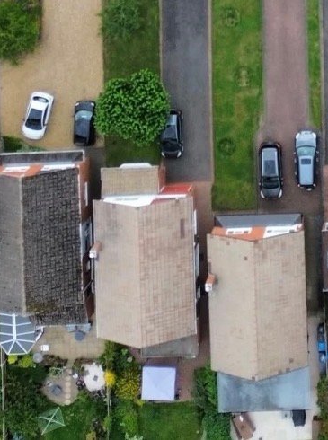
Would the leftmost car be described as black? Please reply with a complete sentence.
No, the leftmost car is white.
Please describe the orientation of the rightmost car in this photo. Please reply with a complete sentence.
In this picture, the rightmost car lies up and down.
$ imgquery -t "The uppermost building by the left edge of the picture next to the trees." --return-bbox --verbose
[0,145,96,327]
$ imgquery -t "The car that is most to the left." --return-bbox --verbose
[21,89,54,142]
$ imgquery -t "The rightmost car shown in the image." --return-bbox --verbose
[291,130,321,190]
